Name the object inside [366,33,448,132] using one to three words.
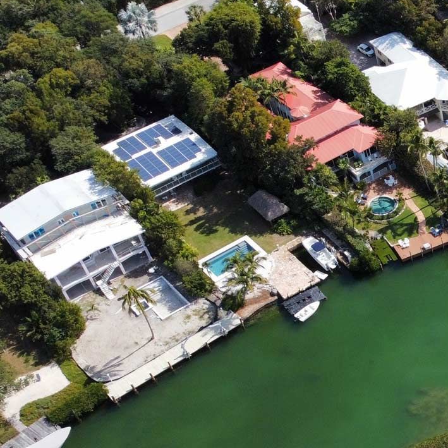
house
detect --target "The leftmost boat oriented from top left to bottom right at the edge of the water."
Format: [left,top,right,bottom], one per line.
[303,237,338,271]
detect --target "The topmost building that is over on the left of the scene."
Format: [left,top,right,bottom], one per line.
[111,115,222,199]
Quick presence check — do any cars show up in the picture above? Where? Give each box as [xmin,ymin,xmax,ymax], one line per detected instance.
[357,44,371,58]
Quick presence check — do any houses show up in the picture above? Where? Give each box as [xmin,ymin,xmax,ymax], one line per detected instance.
[0,166,154,303]
[111,115,222,199]
[366,33,448,132]
[281,14,350,62]
[258,57,395,179]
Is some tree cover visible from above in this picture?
Yes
